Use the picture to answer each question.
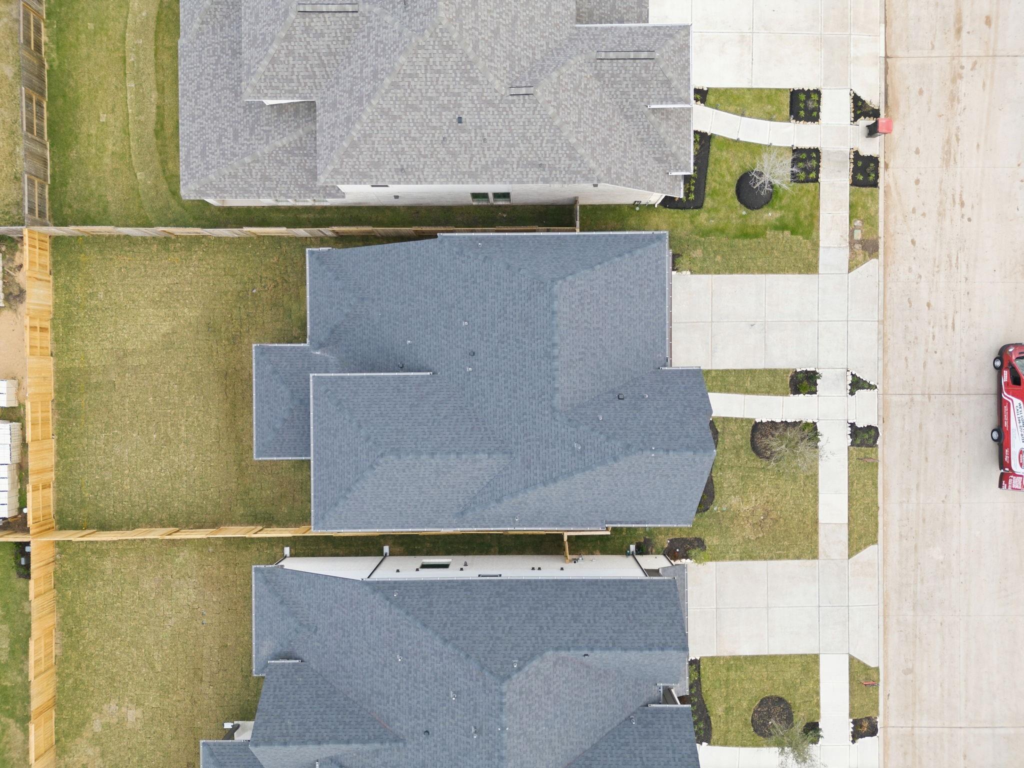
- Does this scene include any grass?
Yes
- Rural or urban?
urban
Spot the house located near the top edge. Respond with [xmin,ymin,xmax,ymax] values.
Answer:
[178,0,695,207]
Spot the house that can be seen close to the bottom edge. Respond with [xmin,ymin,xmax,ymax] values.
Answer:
[199,550,701,768]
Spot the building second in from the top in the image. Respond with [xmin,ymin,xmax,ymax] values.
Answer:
[251,230,715,533]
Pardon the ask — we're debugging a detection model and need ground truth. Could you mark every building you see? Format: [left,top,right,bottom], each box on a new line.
[199,550,701,768]
[251,230,715,533]
[178,0,695,207]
